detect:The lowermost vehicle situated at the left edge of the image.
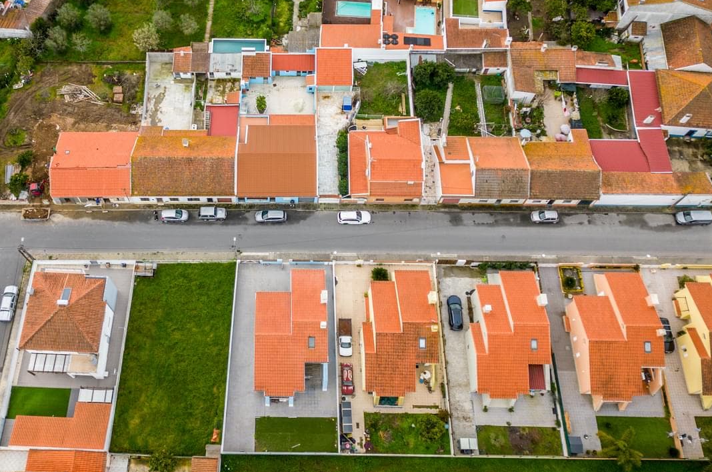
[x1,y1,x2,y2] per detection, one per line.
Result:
[0,283,19,323]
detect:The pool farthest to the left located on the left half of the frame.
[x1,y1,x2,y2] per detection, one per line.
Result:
[210,39,268,53]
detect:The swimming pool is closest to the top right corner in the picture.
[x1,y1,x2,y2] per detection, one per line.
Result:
[413,6,436,34]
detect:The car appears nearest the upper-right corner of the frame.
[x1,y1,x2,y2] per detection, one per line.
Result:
[673,207,712,227]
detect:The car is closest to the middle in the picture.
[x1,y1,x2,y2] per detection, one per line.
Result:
[338,208,371,226]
